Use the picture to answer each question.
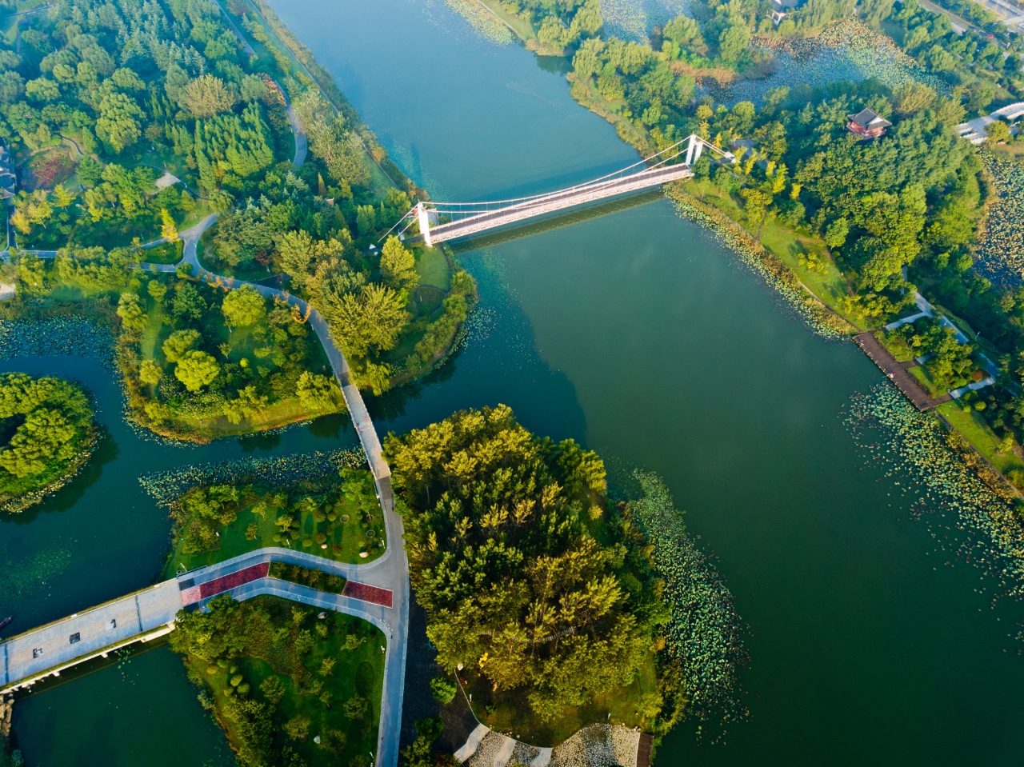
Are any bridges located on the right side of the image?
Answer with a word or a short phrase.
Yes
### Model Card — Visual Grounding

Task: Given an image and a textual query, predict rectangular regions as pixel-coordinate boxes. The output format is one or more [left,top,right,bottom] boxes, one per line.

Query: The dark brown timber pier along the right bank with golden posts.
[854,326,953,411]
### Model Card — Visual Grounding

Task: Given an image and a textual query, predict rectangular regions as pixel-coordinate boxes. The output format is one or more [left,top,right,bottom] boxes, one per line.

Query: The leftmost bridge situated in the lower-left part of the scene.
[0,570,184,701]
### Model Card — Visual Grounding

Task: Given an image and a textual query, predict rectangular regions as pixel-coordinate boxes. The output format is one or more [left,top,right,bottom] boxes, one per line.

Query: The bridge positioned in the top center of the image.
[366,130,737,256]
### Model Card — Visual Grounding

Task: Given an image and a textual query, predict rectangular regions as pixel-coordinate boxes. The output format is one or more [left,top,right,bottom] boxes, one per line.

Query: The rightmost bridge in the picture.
[955,95,1024,145]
